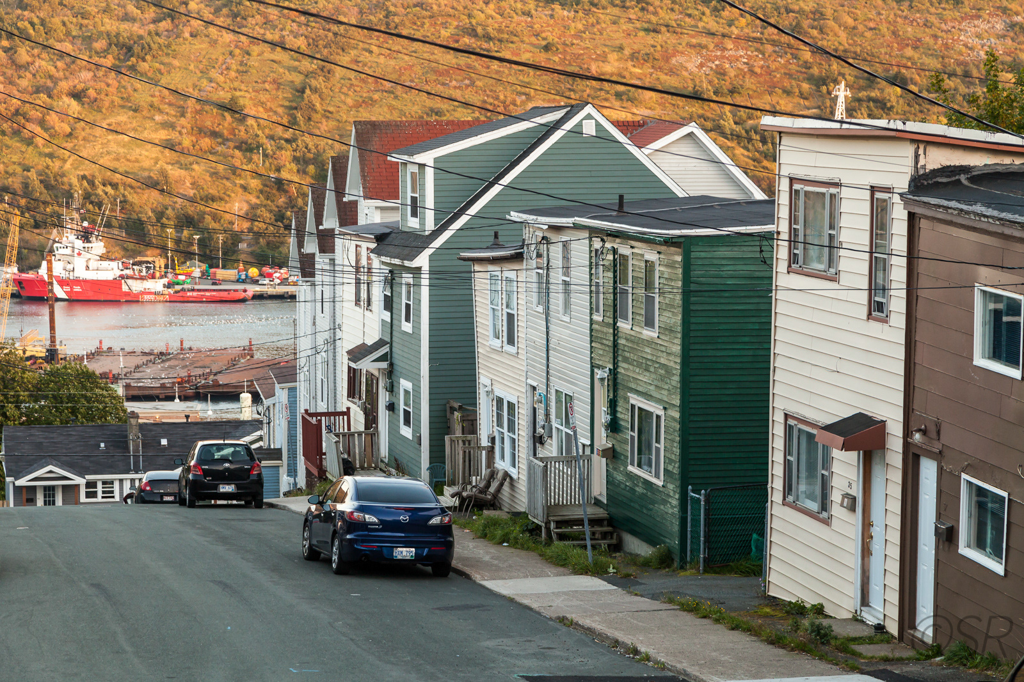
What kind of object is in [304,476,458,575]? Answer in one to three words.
car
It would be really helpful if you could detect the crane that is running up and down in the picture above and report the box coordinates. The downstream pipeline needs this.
[0,192,24,360]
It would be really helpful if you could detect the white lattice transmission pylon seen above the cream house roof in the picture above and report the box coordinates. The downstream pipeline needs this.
[832,80,851,117]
